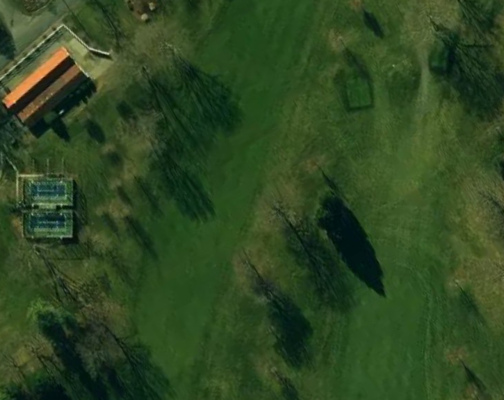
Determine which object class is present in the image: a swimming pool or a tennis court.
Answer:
tennis court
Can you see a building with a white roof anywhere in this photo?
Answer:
No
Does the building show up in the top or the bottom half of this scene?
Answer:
top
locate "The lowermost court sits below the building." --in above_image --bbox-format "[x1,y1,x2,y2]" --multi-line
[23,209,73,237]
